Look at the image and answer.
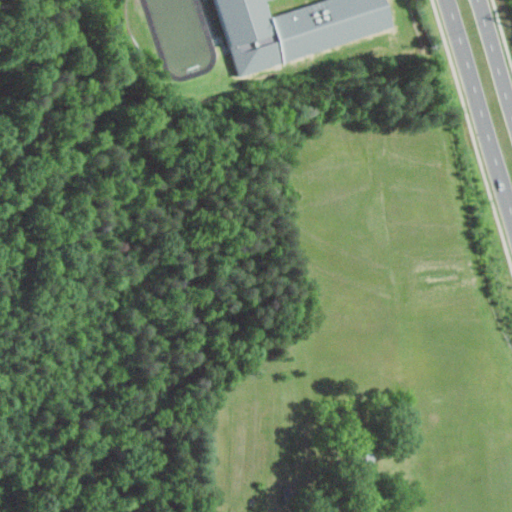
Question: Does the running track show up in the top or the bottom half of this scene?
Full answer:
The top half of the photo is where the running track is.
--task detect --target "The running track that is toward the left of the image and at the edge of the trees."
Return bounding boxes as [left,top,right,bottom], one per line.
[142,0,216,82]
